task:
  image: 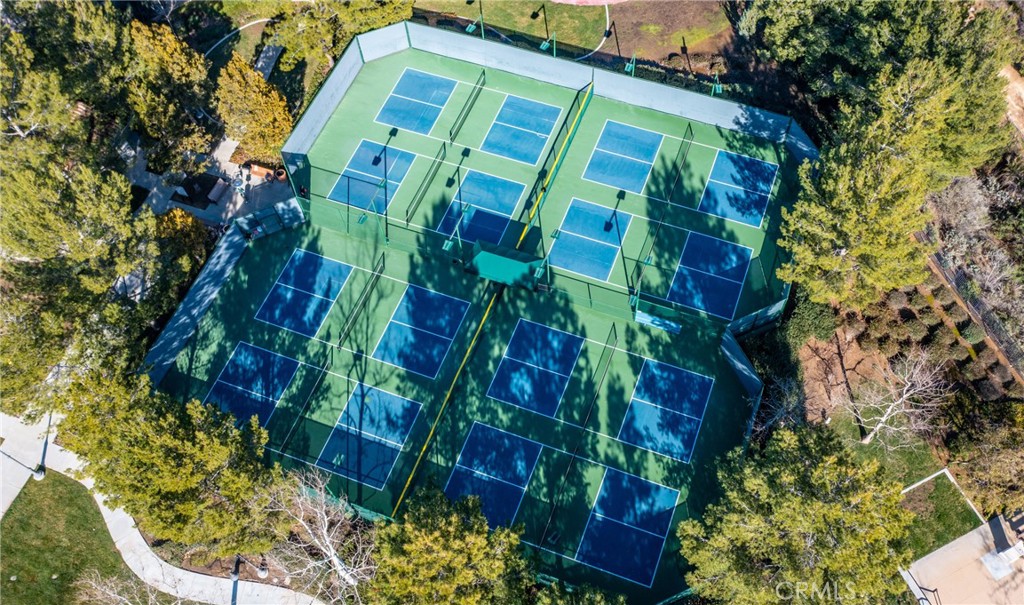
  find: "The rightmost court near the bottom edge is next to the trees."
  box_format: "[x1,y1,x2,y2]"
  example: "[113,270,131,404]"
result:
[440,422,680,588]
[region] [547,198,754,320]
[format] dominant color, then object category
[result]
blue sports court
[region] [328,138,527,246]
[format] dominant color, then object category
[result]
blue sports court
